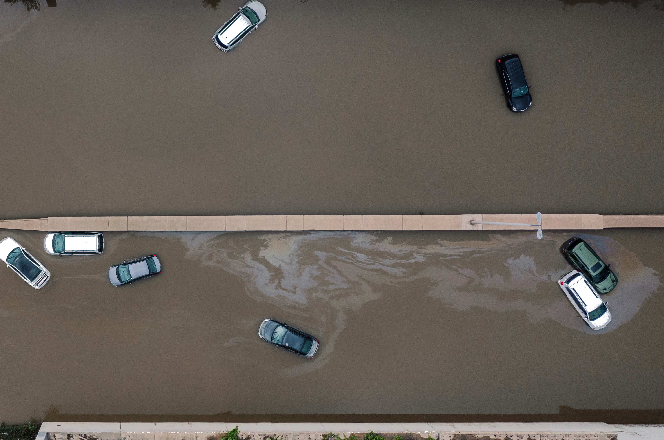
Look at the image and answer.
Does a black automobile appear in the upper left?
No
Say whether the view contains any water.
Yes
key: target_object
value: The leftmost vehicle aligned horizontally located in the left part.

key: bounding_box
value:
[44,231,103,259]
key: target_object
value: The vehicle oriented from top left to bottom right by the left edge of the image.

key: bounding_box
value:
[0,236,53,291]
